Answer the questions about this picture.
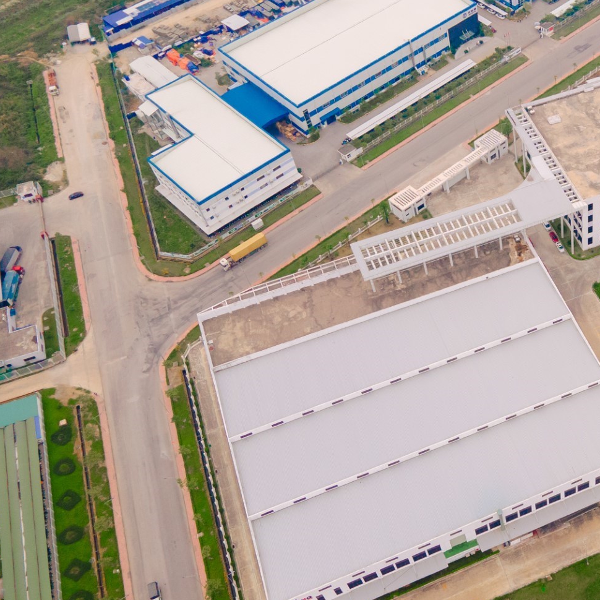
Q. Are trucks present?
Yes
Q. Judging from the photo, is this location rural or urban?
urban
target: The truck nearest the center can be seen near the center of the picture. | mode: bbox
[217,236,273,275]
